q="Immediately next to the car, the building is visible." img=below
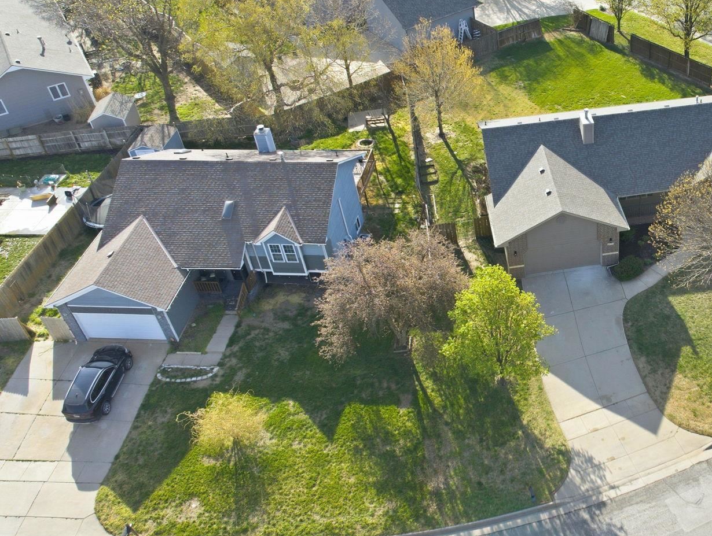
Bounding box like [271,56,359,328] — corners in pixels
[47,122,389,342]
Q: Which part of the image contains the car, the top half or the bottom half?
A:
bottom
